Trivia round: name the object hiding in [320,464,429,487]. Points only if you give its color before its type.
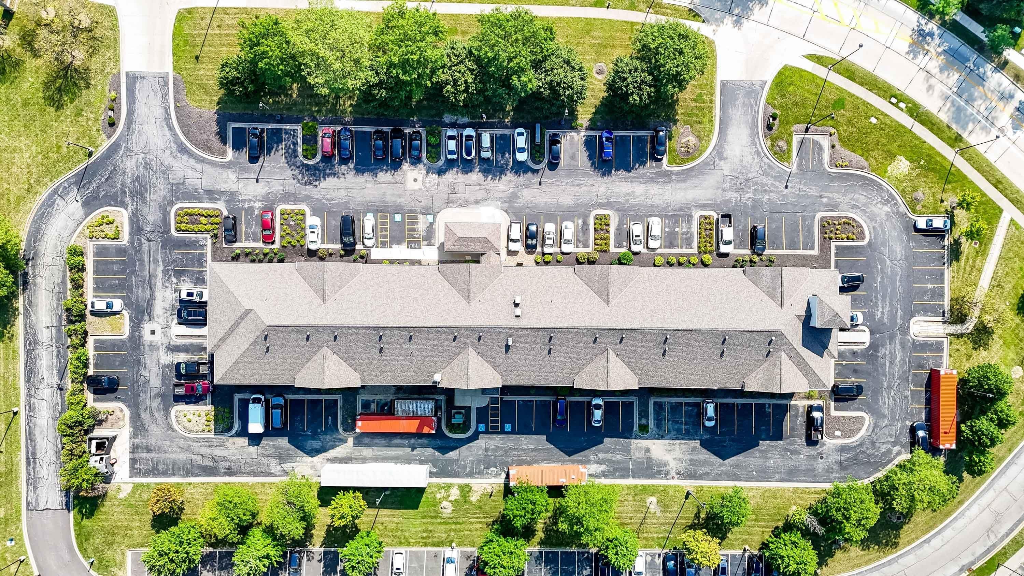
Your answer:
white trailer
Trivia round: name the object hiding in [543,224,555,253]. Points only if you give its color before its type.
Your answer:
white vehicle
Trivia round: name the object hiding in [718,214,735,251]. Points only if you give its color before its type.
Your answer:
white vehicle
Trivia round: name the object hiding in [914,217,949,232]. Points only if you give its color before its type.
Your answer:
white car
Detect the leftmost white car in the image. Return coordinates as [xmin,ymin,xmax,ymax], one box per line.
[90,298,125,313]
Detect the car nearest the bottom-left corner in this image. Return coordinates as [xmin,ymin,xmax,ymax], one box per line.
[87,374,120,389]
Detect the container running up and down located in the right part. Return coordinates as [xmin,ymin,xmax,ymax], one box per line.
[931,367,957,449]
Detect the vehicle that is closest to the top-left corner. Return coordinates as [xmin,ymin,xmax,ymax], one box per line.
[247,127,263,157]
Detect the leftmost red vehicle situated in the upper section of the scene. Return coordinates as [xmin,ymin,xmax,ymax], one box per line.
[262,211,276,243]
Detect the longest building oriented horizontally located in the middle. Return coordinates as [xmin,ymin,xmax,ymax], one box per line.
[208,222,850,394]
